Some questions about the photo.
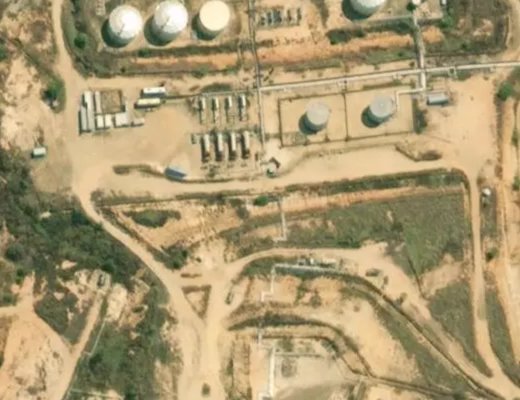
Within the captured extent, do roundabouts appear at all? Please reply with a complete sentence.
No, no roundabout can be seen from above.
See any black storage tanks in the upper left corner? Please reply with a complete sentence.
No, looking in the upper left corner, there is no black storage tank.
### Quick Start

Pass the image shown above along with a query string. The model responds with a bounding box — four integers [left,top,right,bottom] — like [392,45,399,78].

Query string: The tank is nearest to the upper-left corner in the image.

[108,6,142,46]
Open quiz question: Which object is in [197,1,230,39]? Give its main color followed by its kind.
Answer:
white storage tank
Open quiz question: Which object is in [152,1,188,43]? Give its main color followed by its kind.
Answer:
white storage tank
